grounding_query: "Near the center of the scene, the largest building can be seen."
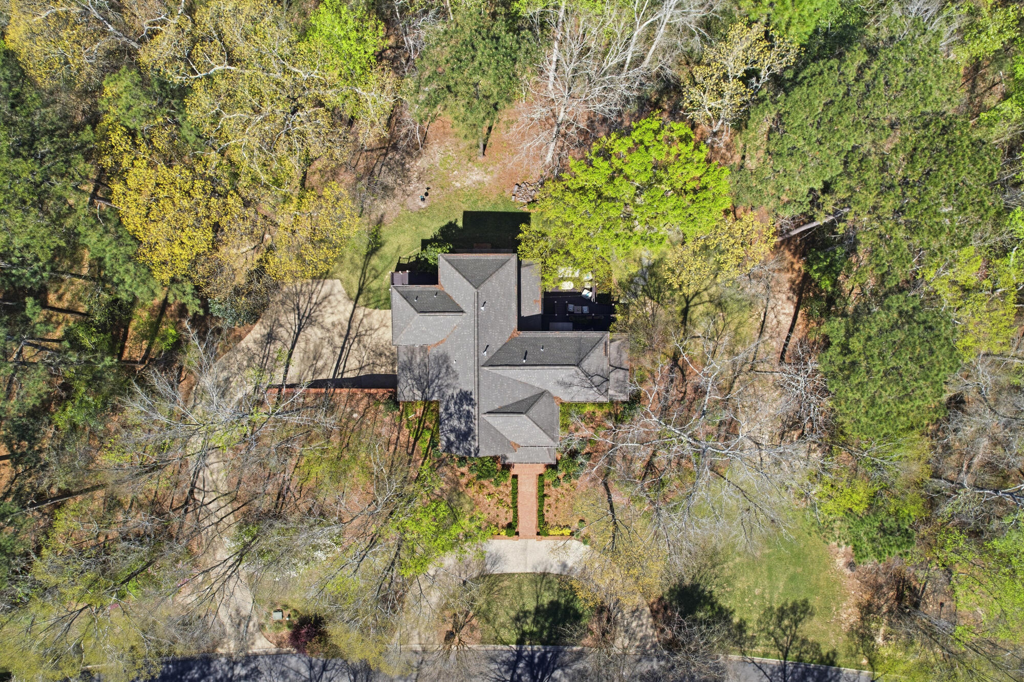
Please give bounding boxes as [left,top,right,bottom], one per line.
[390,252,631,466]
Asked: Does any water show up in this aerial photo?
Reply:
No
